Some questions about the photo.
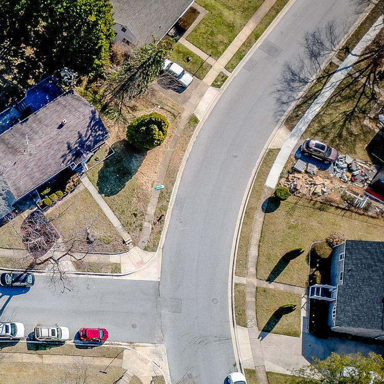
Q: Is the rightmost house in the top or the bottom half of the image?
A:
bottom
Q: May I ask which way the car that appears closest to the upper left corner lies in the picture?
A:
on a diagonal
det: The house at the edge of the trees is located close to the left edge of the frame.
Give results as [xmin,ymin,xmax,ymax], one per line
[0,85,110,217]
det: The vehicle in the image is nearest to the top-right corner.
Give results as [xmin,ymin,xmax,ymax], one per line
[297,138,337,164]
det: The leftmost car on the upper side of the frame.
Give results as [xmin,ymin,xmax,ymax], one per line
[157,56,197,91]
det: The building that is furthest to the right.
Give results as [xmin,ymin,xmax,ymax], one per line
[325,241,384,335]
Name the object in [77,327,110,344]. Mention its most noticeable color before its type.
red car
